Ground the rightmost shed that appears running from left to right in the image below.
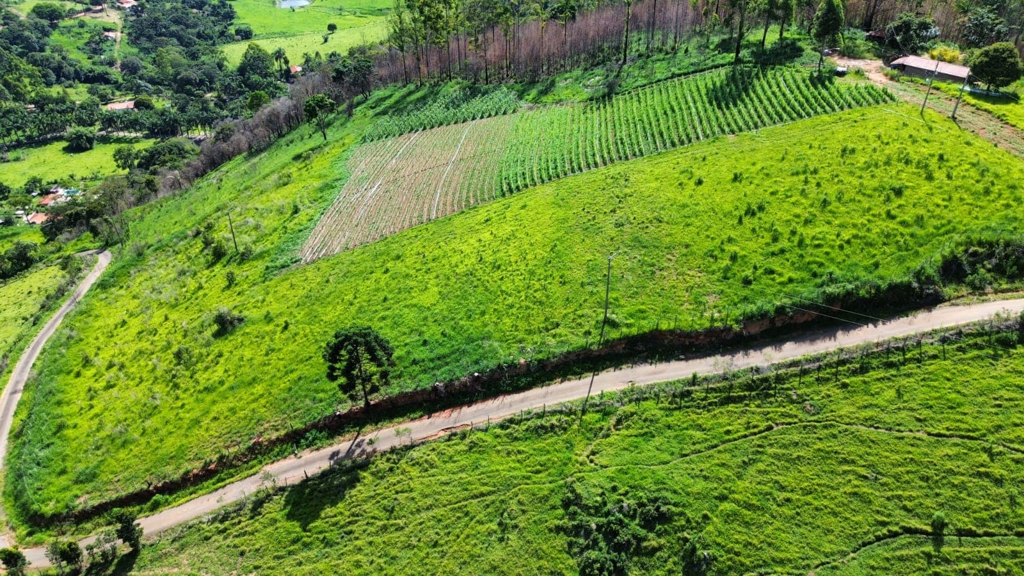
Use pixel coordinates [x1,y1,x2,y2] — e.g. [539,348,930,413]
[894,55,983,86]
